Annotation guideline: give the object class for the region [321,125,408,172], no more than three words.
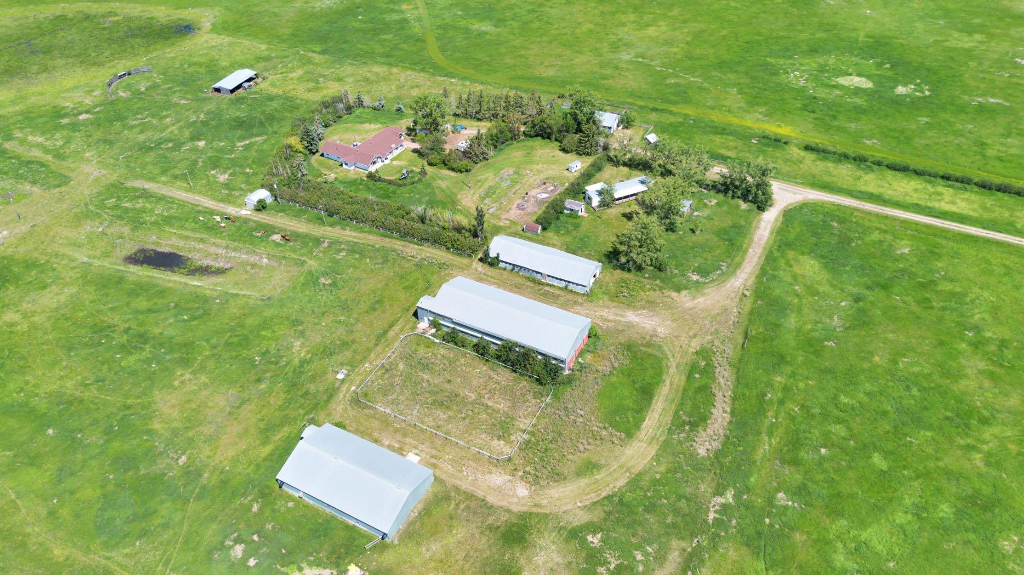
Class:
house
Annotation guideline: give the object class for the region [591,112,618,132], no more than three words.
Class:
shed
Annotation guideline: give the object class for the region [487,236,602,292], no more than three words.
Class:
barn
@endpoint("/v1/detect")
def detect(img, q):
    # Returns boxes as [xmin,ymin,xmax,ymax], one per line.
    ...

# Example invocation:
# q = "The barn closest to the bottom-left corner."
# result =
[278,423,432,542]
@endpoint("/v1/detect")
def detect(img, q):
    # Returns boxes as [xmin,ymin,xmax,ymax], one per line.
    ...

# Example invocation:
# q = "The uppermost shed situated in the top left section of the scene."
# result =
[213,69,257,95]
